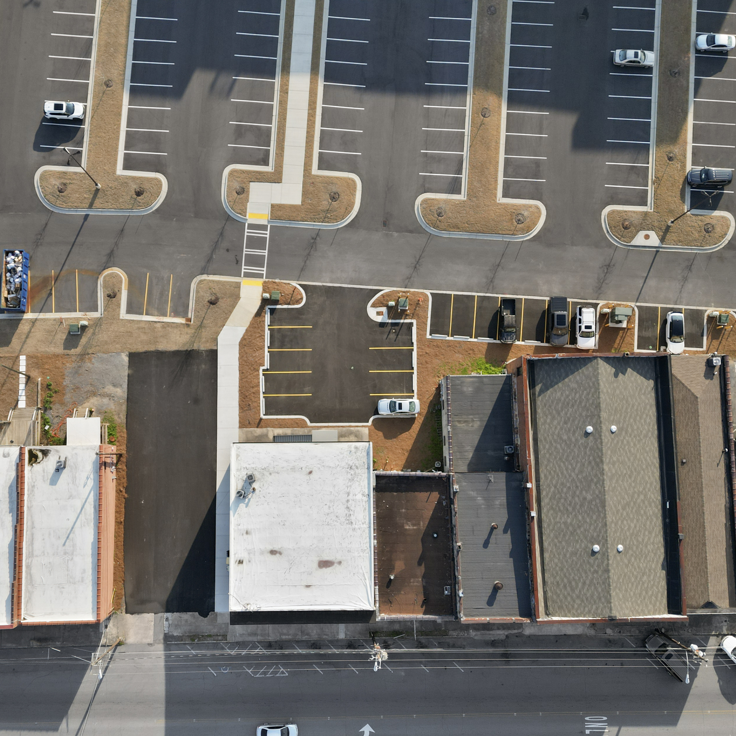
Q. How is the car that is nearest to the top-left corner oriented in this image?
from left to right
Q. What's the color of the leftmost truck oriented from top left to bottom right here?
black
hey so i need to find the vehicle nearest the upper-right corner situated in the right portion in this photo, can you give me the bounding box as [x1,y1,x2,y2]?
[692,33,736,54]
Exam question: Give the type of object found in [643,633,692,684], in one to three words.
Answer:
truck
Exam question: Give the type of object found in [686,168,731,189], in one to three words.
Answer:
car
